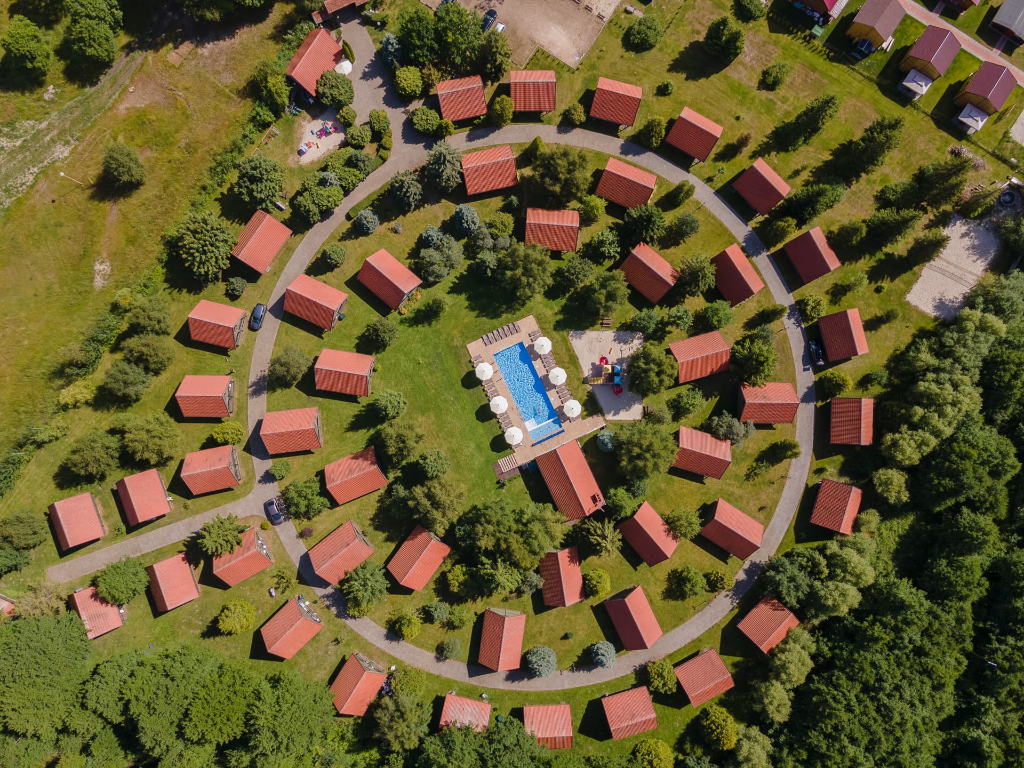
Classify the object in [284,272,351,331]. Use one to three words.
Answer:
building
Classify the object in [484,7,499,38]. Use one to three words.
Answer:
car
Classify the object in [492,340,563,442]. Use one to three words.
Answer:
swimming pool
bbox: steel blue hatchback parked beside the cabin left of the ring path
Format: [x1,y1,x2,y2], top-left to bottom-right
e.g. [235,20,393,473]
[250,303,267,331]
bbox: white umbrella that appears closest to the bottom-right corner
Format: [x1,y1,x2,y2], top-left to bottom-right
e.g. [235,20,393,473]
[563,399,581,418]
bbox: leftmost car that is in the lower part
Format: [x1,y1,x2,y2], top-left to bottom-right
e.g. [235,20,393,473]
[267,497,285,525]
